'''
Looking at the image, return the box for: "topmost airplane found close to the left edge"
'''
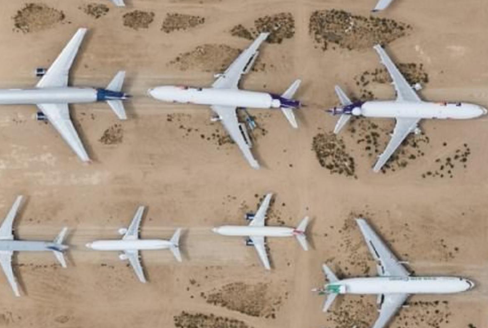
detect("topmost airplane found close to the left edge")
[0,28,130,167]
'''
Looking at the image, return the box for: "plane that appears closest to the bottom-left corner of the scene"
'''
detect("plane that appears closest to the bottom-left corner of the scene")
[0,195,68,294]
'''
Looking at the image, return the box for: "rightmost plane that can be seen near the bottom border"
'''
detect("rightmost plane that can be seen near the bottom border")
[315,219,475,328]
